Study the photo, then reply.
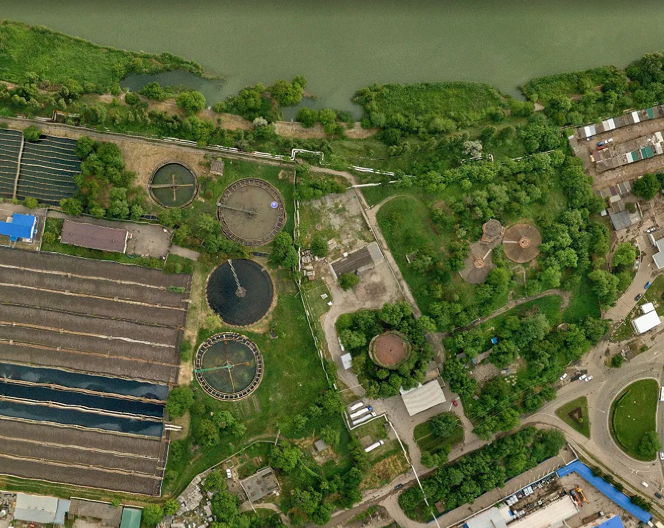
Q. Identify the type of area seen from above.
industrial area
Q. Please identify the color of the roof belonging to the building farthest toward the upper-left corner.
blue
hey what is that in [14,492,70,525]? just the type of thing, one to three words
building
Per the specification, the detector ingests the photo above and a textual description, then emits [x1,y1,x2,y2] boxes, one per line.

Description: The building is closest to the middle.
[331,242,383,278]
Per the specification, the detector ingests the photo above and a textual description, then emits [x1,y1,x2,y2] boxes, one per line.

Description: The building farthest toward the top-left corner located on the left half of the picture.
[0,213,38,241]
